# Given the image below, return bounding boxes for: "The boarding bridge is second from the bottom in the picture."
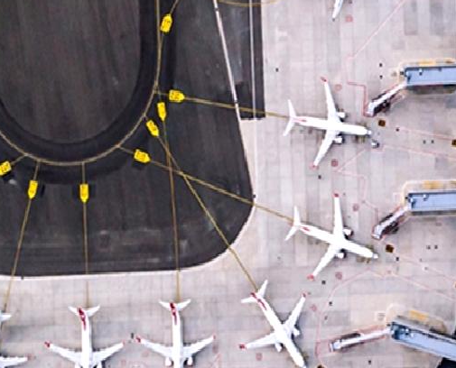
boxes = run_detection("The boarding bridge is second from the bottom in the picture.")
[371,203,409,239]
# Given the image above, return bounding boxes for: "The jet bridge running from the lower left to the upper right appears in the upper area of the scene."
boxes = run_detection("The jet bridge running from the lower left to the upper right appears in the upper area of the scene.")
[366,79,405,116]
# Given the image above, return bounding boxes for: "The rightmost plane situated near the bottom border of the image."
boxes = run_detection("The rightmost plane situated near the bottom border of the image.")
[236,280,306,367]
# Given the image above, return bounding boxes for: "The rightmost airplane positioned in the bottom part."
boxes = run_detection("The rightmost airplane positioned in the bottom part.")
[288,195,378,275]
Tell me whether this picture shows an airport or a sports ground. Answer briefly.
airport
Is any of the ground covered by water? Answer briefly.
No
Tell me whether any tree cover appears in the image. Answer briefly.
No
